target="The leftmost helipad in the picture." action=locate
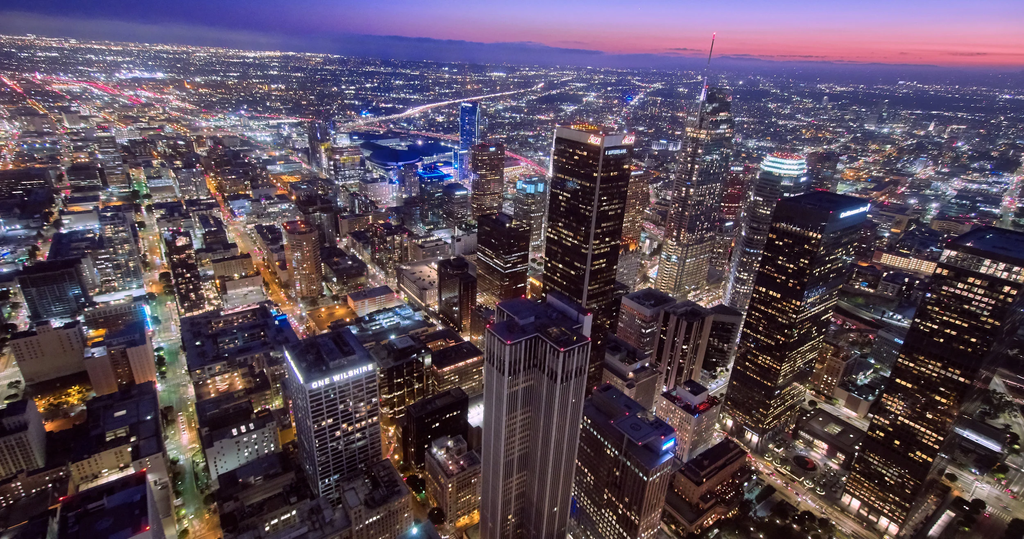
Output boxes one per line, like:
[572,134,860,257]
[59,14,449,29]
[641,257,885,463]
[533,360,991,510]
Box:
[390,338,411,356]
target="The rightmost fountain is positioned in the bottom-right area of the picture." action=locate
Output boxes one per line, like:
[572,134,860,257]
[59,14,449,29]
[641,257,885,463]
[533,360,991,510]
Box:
[791,454,819,475]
